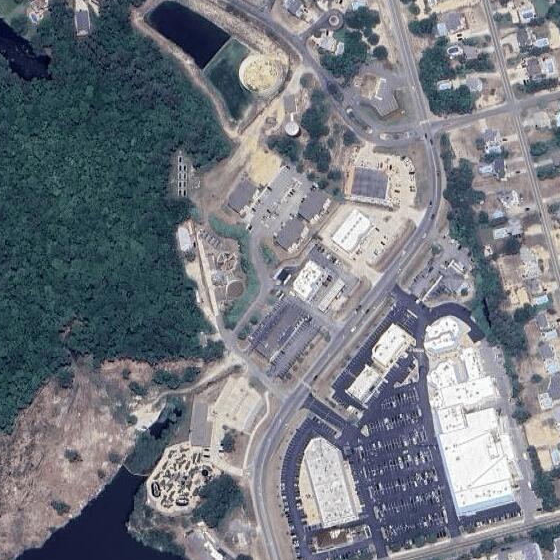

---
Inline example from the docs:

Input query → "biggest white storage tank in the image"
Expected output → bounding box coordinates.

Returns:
[239,51,288,95]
